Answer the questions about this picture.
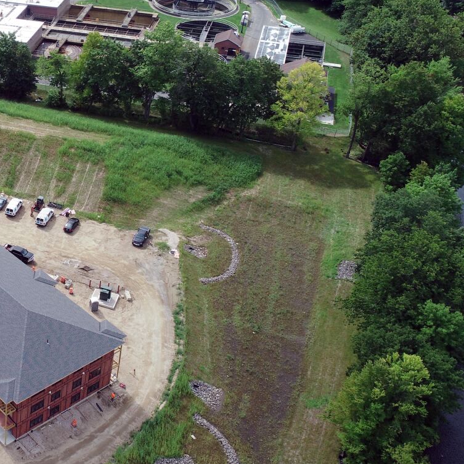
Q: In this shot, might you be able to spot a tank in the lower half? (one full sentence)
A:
No, looking in the lower half, there is no tank.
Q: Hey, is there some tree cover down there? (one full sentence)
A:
Yes, there is tree cover in the image.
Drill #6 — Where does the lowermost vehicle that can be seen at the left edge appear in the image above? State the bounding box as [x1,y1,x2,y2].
[3,239,34,260]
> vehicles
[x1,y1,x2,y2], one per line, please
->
[0,195,10,210]
[35,207,57,226]
[4,198,25,215]
[132,225,153,246]
[3,239,34,260]
[29,200,47,214]
[63,216,81,232]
